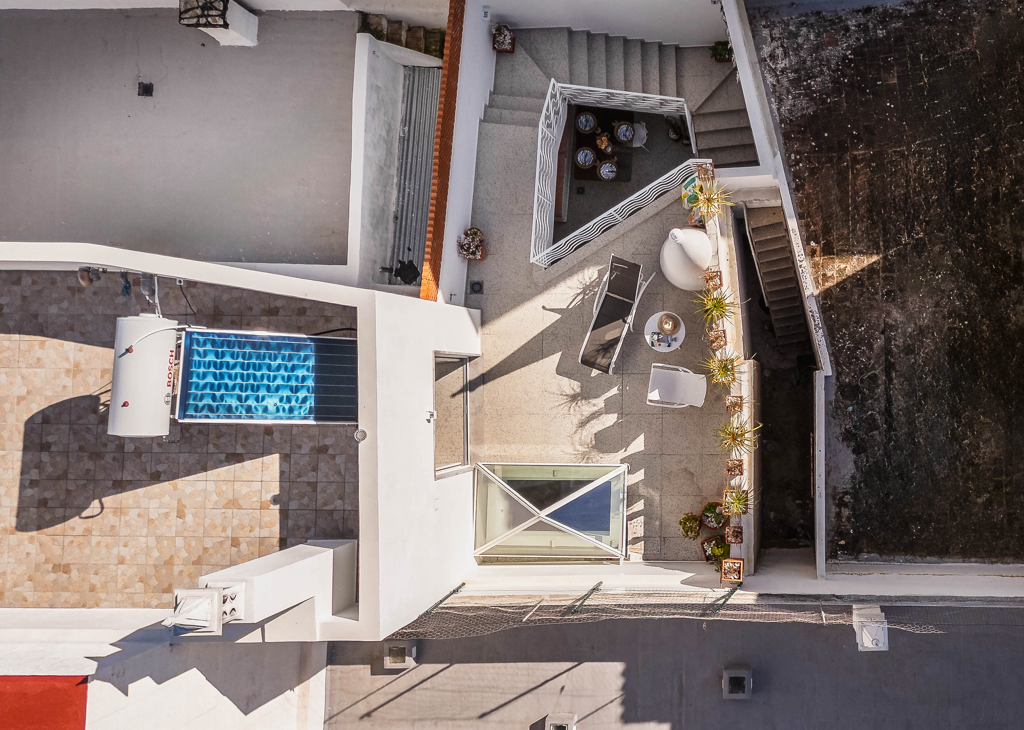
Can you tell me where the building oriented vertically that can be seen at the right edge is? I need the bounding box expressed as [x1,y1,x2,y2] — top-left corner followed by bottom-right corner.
[758,0,1024,574]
